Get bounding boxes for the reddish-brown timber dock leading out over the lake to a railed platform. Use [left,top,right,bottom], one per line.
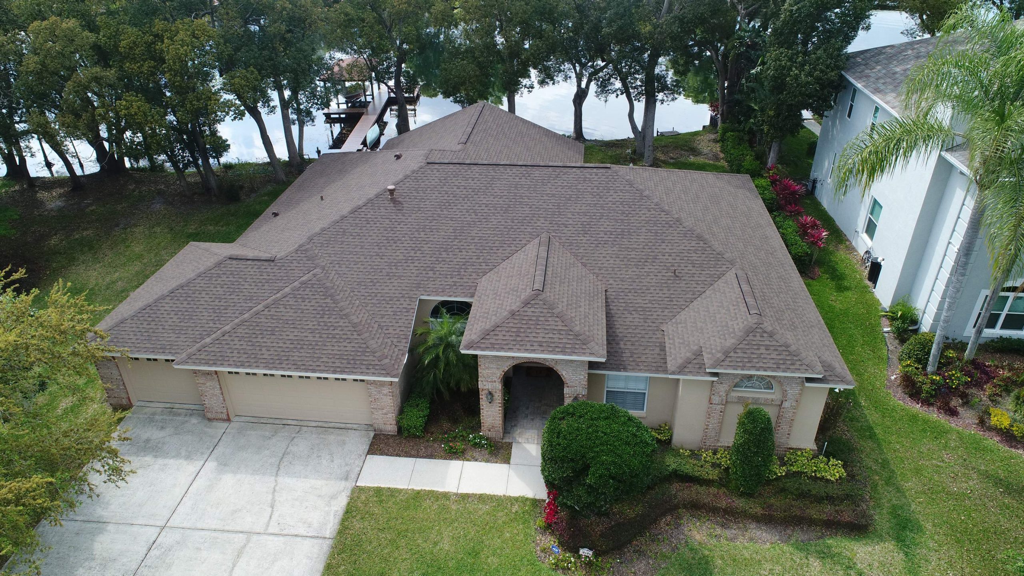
[323,77,421,151]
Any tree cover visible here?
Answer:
Yes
